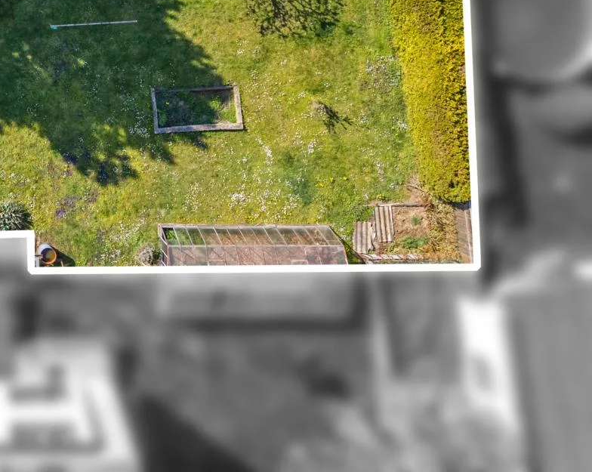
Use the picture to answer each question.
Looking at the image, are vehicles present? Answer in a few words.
No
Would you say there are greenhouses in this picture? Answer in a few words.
Yes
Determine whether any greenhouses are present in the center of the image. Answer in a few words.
Yes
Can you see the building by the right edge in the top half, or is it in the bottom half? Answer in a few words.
bottom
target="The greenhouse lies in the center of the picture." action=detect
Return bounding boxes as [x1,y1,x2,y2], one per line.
[159,221,350,323]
